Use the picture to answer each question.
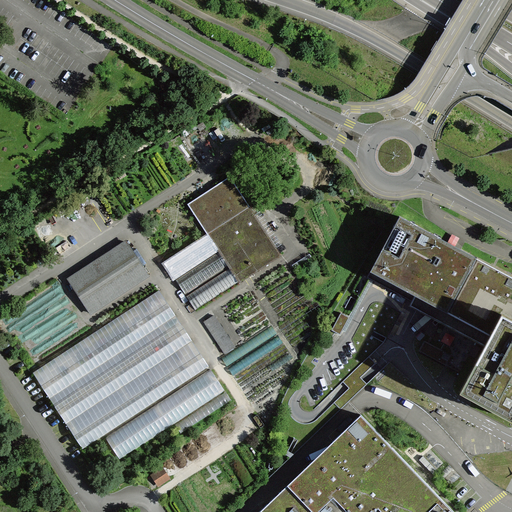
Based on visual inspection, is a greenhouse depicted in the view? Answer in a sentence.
Yes, this view includes a greenhouse.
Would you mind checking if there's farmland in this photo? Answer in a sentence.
No, the picture contains no farmland.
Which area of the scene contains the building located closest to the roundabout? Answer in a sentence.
You can find the building located closest to the roundabout in the right area of the picture.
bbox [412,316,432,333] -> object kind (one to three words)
vehicle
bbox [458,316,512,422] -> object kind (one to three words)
building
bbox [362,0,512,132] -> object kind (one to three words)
bridge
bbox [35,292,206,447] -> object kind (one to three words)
greenhouse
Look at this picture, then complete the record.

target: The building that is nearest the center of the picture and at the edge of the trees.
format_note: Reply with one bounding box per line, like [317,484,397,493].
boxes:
[208,208,281,282]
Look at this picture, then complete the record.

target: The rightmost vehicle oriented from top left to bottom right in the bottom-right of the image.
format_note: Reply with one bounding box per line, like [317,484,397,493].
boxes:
[464,459,478,476]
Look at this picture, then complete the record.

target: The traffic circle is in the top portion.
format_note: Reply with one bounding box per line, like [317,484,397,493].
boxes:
[356,114,436,194]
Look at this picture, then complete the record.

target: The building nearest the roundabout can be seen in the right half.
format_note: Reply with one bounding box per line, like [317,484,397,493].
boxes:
[370,218,476,312]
